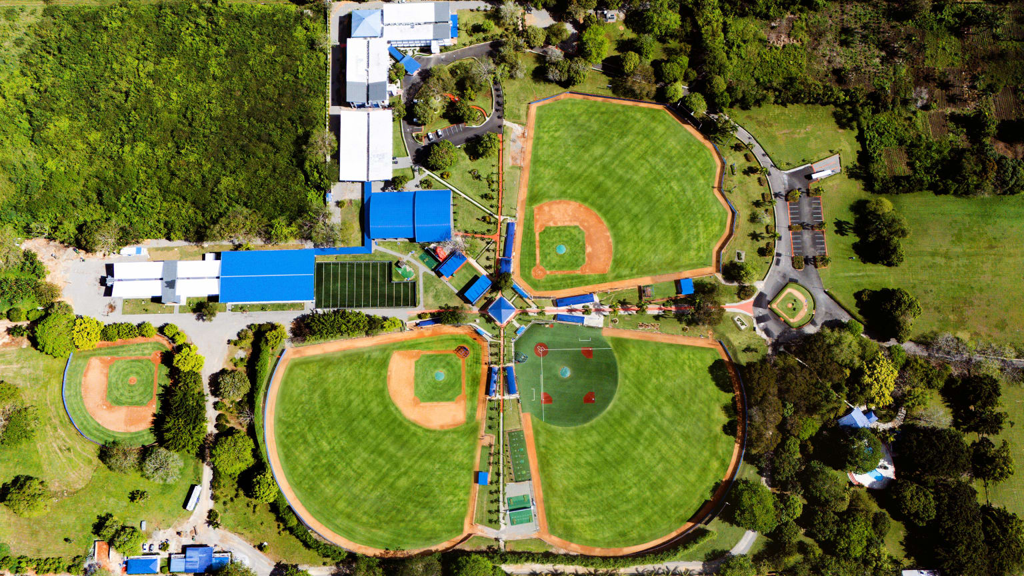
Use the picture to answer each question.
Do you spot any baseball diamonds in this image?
Yes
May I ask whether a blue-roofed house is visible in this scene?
Yes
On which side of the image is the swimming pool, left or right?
right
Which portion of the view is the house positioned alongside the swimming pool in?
bottom right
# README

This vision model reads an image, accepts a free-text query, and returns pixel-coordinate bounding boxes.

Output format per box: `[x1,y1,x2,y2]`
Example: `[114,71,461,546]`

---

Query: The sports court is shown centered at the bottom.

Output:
[507,428,531,483]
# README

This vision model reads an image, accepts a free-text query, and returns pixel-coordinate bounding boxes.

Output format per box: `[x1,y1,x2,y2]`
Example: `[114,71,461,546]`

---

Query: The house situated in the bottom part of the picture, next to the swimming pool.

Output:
[836,408,869,432]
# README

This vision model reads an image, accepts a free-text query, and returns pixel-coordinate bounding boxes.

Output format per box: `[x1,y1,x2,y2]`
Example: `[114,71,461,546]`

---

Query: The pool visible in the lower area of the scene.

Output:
[847,434,896,489]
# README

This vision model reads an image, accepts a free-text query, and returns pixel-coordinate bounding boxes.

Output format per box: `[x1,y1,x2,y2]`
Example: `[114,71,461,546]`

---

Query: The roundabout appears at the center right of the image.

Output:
[767,282,816,329]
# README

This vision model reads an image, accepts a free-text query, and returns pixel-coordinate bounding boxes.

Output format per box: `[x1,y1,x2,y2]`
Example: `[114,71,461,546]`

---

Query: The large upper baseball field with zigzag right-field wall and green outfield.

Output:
[516,93,736,298]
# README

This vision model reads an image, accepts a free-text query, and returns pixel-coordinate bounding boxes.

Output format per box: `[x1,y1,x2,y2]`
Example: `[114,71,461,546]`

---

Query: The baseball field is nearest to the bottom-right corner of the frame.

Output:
[513,322,747,556]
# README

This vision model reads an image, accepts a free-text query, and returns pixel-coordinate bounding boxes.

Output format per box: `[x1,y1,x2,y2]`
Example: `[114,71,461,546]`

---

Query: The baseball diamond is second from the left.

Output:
[265,324,490,557]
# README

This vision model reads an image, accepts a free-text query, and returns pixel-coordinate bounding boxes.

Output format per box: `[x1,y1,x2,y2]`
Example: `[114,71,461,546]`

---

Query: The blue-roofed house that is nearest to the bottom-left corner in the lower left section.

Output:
[127,559,158,574]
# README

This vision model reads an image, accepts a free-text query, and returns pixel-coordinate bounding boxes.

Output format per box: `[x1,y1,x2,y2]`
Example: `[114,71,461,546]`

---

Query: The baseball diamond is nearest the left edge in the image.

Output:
[63,333,175,449]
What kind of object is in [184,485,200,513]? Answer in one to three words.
vehicle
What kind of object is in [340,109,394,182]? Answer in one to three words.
building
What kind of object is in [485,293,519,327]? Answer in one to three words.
building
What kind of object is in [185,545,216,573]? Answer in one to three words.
house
